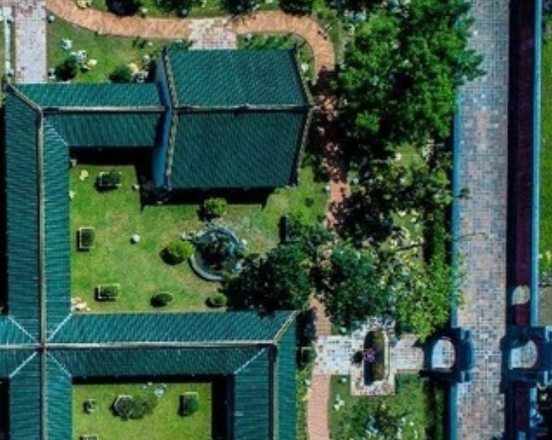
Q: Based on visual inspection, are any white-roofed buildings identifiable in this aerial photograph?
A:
No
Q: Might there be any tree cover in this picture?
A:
Yes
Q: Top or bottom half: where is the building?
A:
top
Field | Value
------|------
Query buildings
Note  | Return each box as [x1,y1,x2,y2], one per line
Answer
[152,36,314,194]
